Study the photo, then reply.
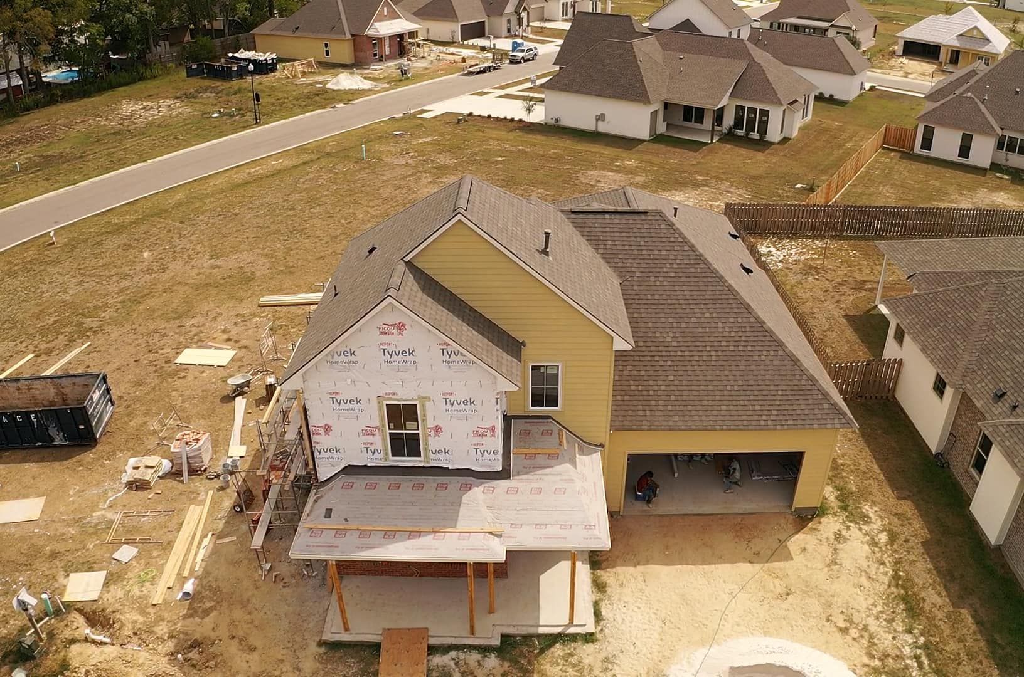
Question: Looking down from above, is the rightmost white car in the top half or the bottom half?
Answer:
top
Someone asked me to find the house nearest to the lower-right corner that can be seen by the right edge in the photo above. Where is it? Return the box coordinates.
[874,237,1024,560]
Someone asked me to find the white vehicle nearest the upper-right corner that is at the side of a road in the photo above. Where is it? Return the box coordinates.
[506,40,540,61]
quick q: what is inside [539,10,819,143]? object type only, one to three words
house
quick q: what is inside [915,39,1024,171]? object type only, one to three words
house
